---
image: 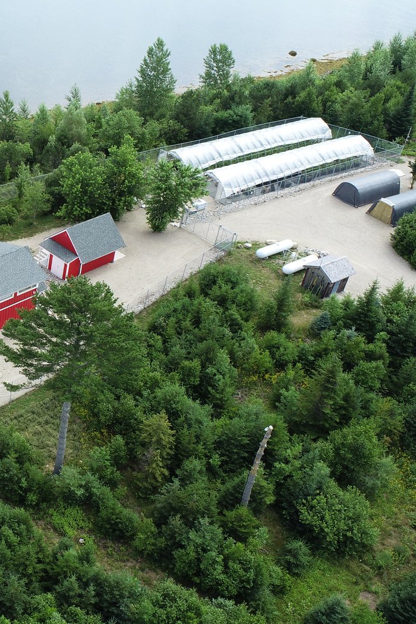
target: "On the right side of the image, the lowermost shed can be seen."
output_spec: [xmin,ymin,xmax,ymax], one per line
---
[301,258,354,298]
